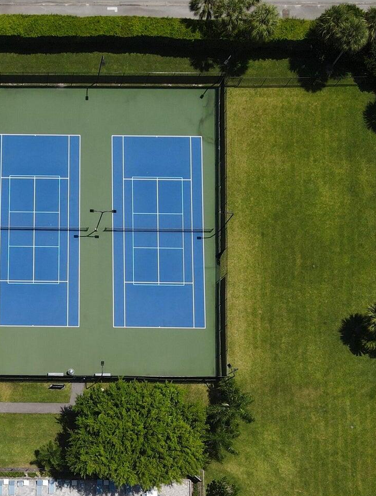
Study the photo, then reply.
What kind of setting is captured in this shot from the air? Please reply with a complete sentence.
This image shows a sports ground.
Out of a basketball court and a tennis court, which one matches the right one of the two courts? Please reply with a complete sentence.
The right one of the two courts is a tennis court.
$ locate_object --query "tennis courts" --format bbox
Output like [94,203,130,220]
[0,86,97,378]
[96,86,220,378]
